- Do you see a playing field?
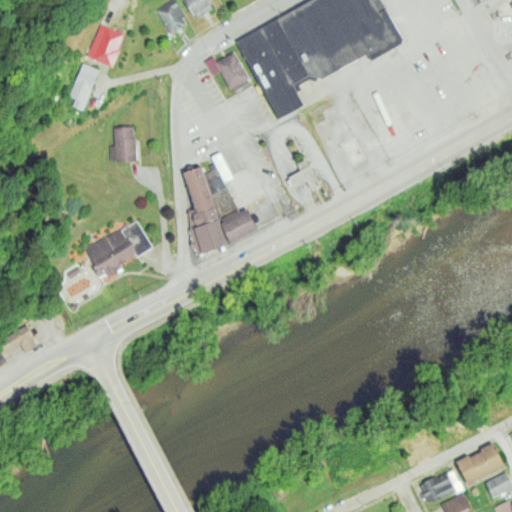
No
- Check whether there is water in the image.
Yes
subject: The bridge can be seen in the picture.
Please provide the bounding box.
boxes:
[96,352,194,512]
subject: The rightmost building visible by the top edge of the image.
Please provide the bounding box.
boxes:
[235,0,402,118]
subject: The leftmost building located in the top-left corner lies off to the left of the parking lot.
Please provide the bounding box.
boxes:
[72,63,98,112]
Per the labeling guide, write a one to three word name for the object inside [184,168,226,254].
building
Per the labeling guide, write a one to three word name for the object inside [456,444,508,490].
house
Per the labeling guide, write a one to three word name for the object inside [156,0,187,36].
house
